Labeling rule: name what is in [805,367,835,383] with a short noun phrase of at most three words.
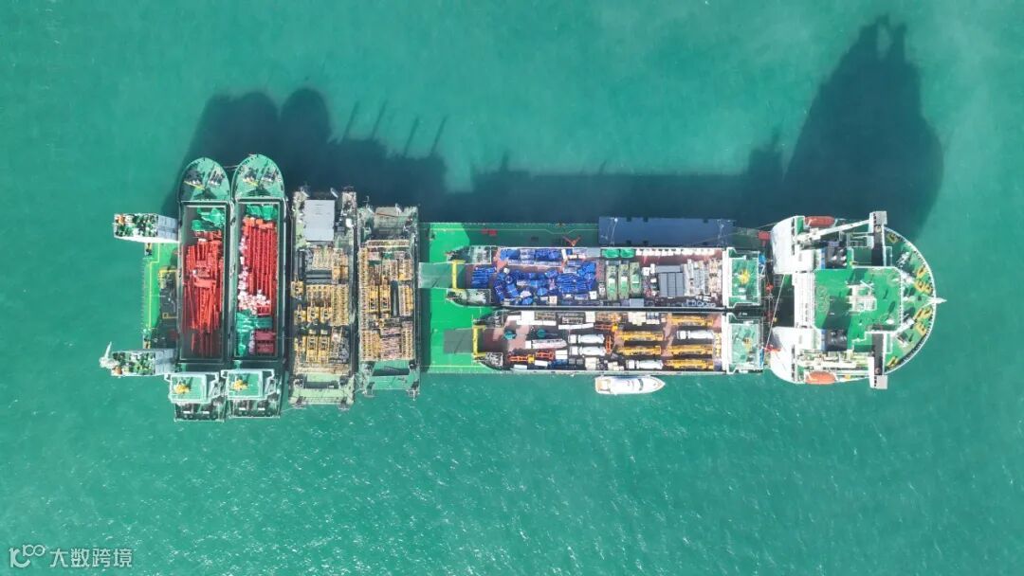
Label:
boat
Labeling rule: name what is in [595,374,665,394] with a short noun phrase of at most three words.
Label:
boat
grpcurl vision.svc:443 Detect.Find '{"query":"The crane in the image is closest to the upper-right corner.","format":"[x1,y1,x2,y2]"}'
[789,217,867,249]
